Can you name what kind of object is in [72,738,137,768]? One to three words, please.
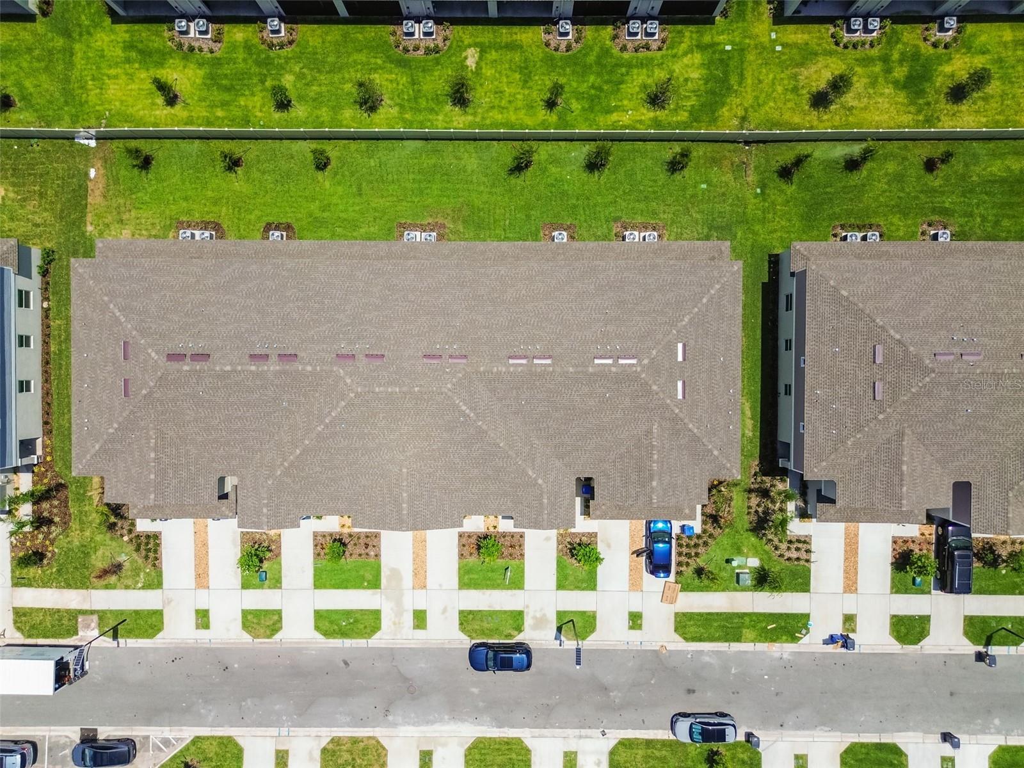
car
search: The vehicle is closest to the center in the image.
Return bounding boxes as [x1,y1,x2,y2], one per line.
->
[634,517,676,577]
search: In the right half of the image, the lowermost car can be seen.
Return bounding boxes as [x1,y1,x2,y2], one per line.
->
[672,711,739,746]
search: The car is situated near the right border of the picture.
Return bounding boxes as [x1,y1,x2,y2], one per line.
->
[935,517,974,592]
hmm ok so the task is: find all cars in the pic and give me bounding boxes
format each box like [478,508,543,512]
[470,643,532,676]
[672,711,739,746]
[634,517,676,577]
[935,517,974,592]
[72,738,137,768]
[0,742,36,768]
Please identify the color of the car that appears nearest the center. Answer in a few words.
blue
